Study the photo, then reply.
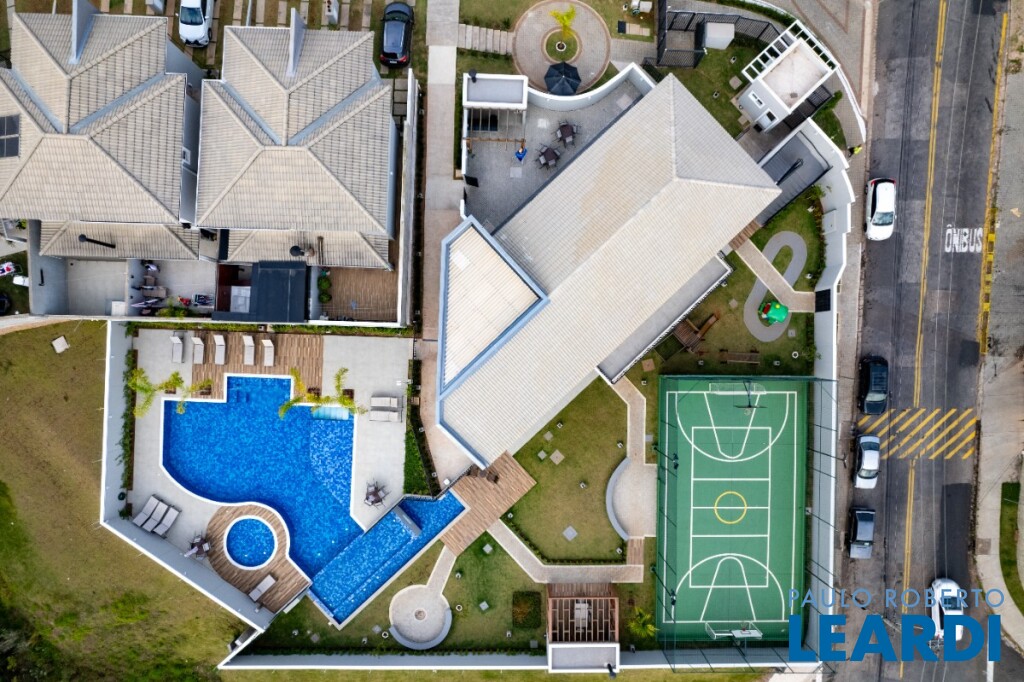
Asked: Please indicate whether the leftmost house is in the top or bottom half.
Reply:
top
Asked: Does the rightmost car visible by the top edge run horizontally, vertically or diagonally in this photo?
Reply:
vertically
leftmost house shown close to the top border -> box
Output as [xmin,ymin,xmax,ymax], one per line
[0,0,217,259]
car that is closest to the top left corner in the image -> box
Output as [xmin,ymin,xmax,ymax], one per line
[175,0,214,50]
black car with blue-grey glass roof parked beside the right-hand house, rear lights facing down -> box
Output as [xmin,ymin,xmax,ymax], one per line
[382,2,415,69]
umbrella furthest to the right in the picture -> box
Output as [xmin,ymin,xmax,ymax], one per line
[545,62,580,97]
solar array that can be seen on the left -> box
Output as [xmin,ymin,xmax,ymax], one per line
[1,114,18,158]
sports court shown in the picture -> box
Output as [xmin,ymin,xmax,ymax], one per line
[656,376,806,641]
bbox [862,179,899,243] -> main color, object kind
white car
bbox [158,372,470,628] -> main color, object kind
blue swimming pool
